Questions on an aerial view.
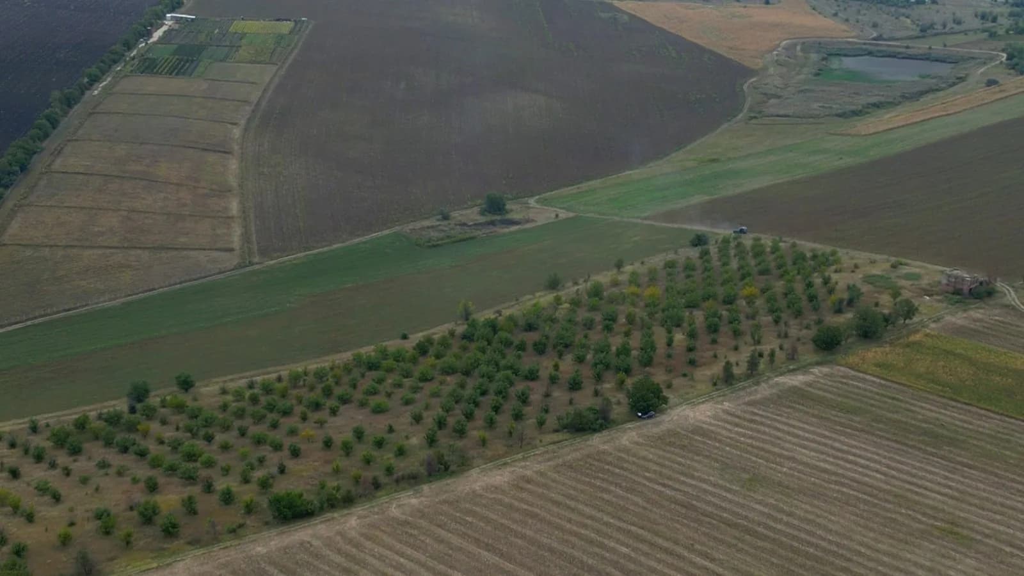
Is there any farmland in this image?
Yes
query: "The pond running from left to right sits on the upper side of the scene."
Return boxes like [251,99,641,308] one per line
[820,56,959,81]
